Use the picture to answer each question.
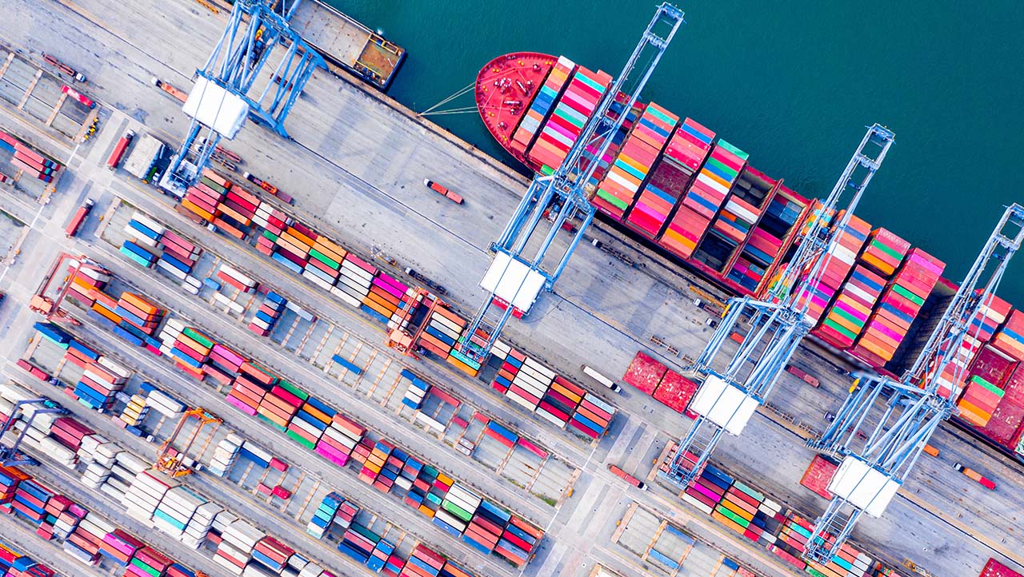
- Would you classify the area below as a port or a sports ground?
port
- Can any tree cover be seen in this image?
No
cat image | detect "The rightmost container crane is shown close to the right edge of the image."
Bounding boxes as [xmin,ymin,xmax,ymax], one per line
[799,198,1024,577]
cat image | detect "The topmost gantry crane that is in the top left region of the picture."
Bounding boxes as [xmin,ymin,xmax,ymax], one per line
[157,0,334,199]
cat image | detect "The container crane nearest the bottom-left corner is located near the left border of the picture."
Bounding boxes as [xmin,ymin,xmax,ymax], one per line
[0,390,71,464]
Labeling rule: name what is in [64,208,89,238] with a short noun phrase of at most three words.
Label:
shipping container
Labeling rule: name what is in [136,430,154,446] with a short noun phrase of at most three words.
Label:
vehicle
